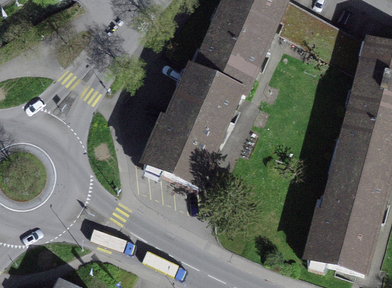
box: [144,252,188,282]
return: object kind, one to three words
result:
truck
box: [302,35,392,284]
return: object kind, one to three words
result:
building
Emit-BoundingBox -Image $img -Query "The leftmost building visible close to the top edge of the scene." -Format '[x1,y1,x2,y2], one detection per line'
[190,0,290,92]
